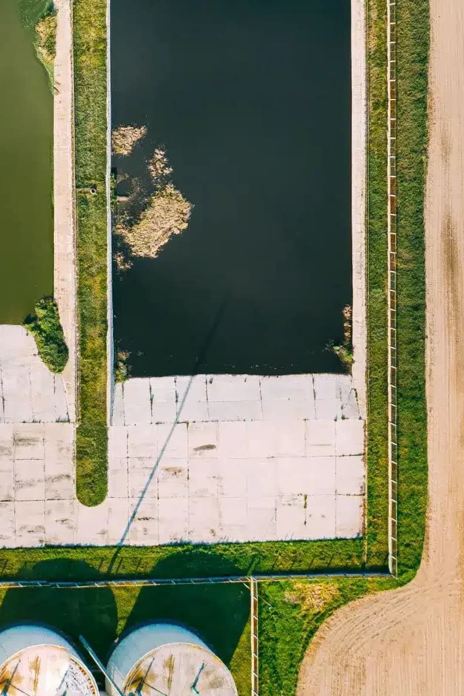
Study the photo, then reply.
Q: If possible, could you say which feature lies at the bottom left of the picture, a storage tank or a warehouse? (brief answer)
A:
storage tank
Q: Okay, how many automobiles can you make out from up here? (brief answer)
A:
zero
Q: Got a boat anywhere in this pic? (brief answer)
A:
No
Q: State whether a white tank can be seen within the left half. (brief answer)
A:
Yes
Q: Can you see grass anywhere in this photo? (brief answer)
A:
Yes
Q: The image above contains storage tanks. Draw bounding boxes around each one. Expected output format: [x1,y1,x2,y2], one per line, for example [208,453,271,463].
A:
[108,622,235,696]
[0,623,98,696]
